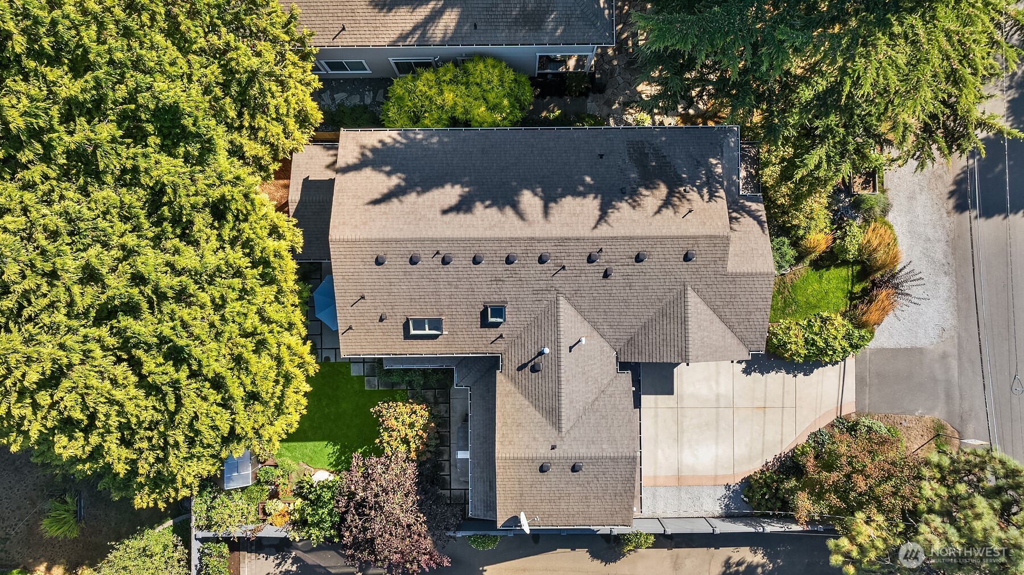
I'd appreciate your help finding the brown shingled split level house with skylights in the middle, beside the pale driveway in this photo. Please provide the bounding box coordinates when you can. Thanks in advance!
[288,127,773,529]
